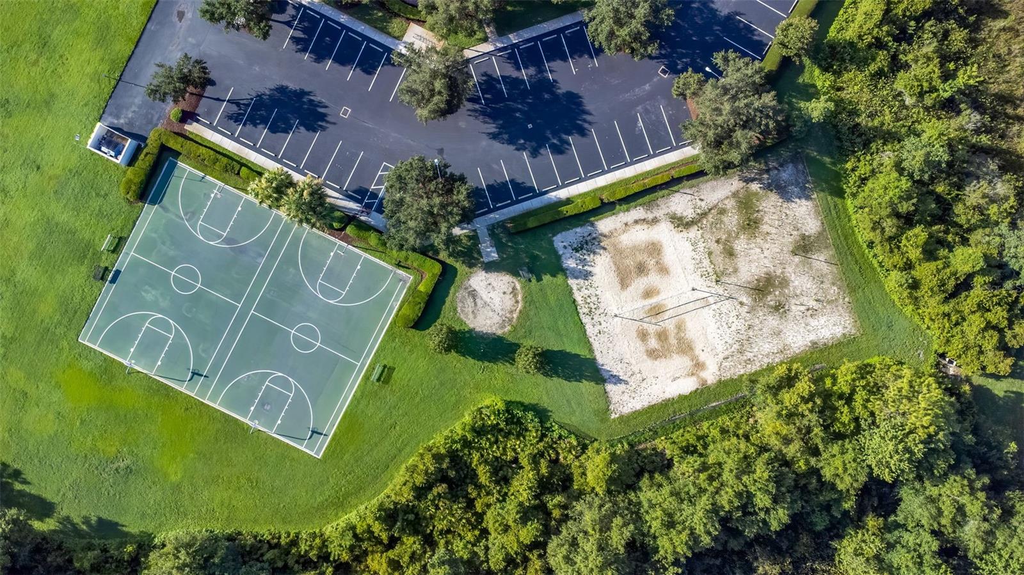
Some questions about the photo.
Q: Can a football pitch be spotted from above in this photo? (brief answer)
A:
No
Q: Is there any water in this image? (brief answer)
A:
No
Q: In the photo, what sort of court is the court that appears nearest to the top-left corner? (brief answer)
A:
basketball court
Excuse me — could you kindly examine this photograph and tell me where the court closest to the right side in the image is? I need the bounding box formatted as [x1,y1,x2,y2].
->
[553,152,859,417]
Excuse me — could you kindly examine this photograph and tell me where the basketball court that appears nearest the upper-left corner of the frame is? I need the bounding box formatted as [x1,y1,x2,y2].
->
[78,156,291,400]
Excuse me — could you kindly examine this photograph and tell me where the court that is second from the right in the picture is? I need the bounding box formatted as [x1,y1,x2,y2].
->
[198,218,413,459]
